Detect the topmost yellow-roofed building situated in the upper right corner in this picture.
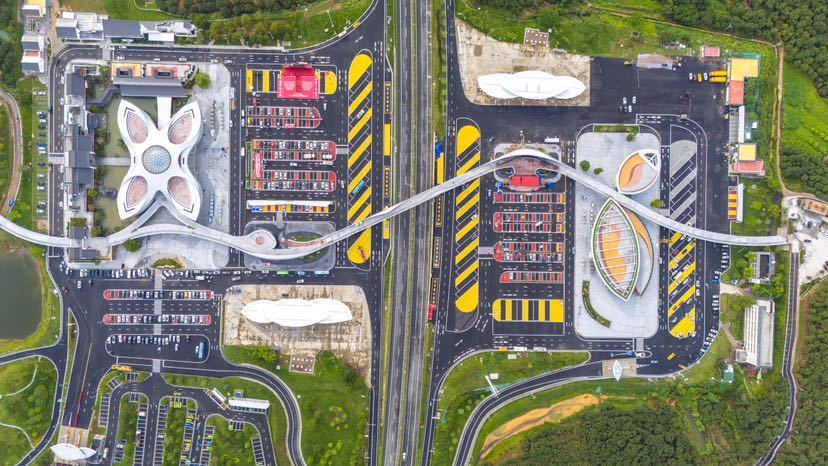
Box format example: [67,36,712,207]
[726,58,758,79]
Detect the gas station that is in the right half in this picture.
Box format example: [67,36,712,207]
[477,71,585,100]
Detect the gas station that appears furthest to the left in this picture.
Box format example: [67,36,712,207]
[241,299,353,328]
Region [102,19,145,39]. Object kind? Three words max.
building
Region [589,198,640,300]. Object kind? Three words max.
building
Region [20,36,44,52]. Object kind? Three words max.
house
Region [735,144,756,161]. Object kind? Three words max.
house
